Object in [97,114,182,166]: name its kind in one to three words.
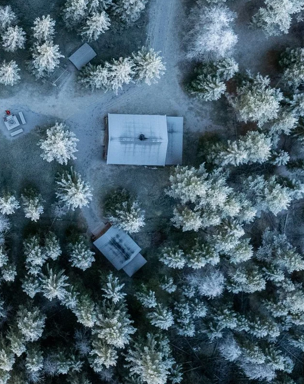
building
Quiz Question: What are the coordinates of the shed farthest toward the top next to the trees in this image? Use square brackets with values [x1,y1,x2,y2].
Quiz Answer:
[68,42,97,70]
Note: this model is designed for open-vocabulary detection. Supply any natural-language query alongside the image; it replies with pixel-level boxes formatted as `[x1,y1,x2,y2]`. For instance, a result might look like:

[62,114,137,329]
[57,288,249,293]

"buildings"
[87,217,142,271]
[97,114,182,166]
[68,42,97,70]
